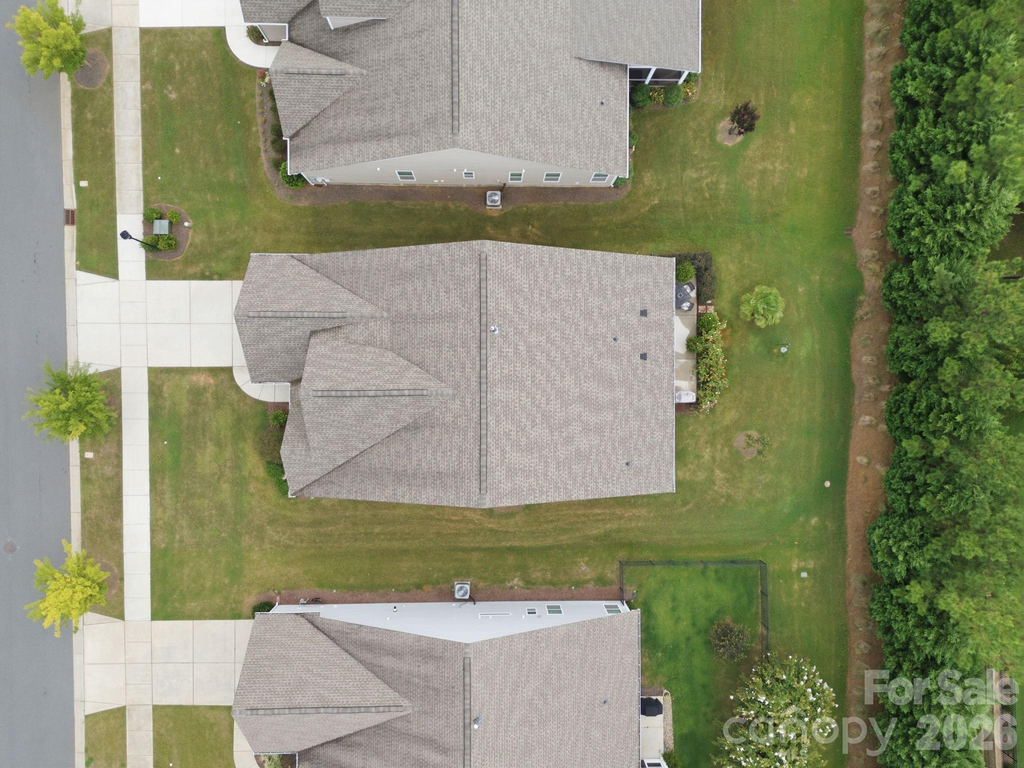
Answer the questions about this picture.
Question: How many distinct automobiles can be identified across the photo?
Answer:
zero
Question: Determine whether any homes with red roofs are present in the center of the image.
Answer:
No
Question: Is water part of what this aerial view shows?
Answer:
No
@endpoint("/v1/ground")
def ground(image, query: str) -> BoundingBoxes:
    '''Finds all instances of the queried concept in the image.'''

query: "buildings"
[240,0,703,190]
[231,592,665,768]
[234,241,678,507]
